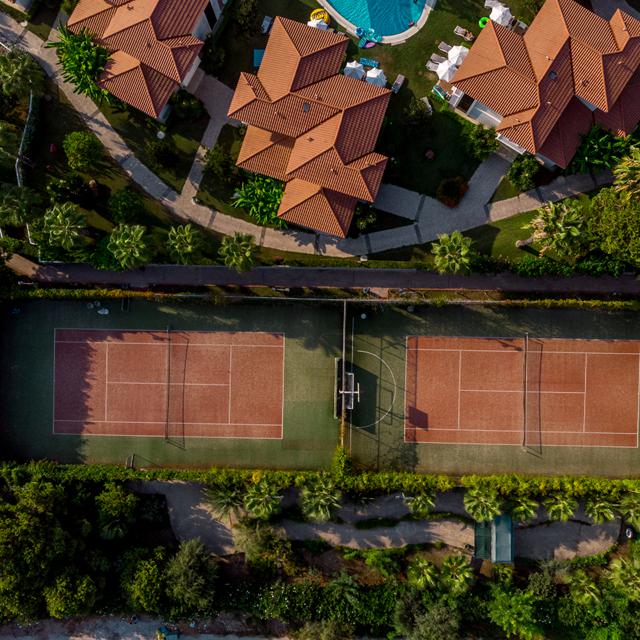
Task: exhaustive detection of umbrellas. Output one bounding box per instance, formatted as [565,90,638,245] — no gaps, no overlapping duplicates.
[342,58,366,80]
[489,3,513,27]
[364,65,388,87]
[433,58,459,84]
[445,43,468,68]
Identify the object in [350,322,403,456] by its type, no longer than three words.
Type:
basketball court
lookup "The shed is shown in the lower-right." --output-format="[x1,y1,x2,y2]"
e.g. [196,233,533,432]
[471,509,518,569]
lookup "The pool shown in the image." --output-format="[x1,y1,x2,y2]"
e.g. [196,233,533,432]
[322,0,437,44]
